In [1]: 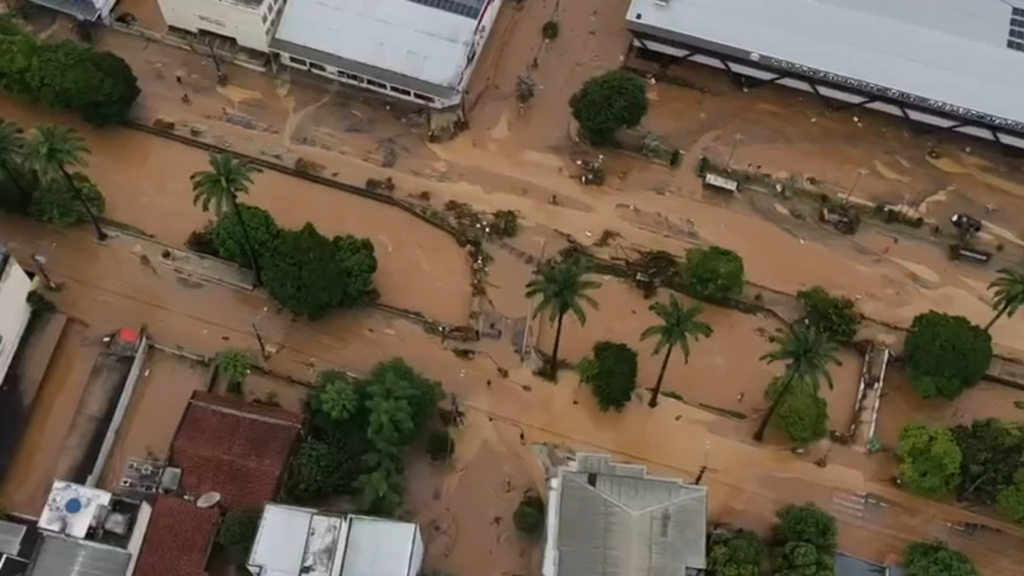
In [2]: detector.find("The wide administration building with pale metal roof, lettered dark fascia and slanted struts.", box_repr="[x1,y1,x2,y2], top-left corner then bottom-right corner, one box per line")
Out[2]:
[625,0,1024,169]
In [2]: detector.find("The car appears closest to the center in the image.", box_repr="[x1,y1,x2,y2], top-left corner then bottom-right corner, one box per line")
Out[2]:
[445,325,480,342]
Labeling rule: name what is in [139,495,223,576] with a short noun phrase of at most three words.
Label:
house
